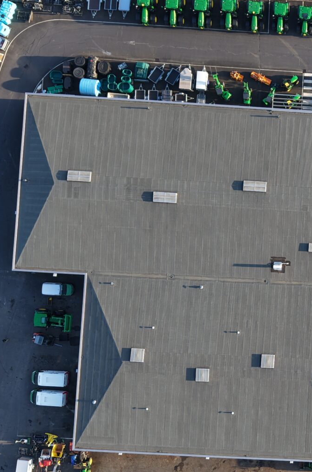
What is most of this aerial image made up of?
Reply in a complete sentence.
The largest share of the image is taken up by buildings.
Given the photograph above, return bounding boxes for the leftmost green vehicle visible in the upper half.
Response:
[135,0,157,29]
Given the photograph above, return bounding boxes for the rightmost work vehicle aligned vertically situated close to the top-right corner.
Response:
[297,6,312,38]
